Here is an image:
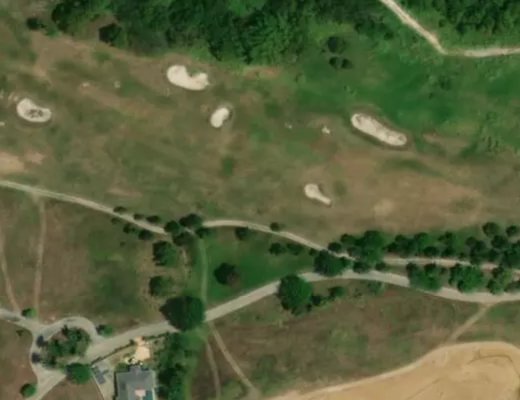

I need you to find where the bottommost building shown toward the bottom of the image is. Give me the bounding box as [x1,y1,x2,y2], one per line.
[116,366,154,400]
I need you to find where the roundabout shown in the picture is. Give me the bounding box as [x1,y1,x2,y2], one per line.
[25,317,113,400]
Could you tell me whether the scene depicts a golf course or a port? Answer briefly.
golf course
